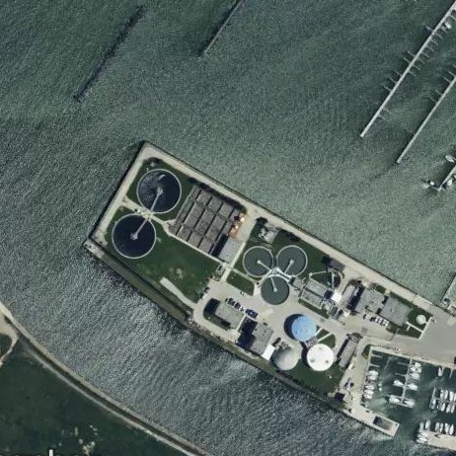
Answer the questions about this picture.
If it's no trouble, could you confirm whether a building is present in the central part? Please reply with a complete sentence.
Yes, a building shows up in the central part.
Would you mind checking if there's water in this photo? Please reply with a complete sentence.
Yes, there's water in this view.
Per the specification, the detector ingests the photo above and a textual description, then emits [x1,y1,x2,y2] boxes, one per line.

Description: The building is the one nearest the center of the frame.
[220,236,243,260]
